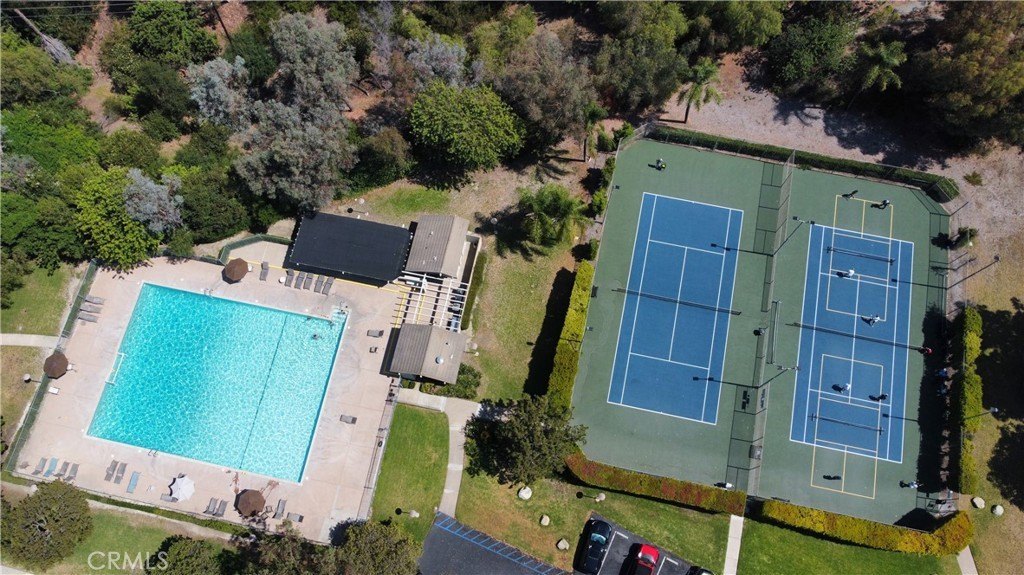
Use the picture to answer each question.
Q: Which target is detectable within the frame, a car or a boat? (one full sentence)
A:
The one in the frame is a car.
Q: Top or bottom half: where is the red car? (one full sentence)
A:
The bottom half of the photo is where the red car is.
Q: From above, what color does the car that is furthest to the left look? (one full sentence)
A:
In this view, the car that is furthest to the left is black.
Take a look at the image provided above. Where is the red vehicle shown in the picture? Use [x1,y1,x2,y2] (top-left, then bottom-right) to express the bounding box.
[630,542,658,575]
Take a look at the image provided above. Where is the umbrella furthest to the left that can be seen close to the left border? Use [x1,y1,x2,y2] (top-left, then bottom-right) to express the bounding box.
[46,353,71,378]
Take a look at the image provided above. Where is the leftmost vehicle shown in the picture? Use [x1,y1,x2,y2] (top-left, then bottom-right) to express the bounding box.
[577,520,611,575]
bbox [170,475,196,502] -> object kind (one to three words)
umbrella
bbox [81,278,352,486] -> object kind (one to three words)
swimming pool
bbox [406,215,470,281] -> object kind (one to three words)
building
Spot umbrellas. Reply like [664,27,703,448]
[237,488,266,517]
[46,353,71,378]
[225,259,249,281]
[170,475,196,502]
